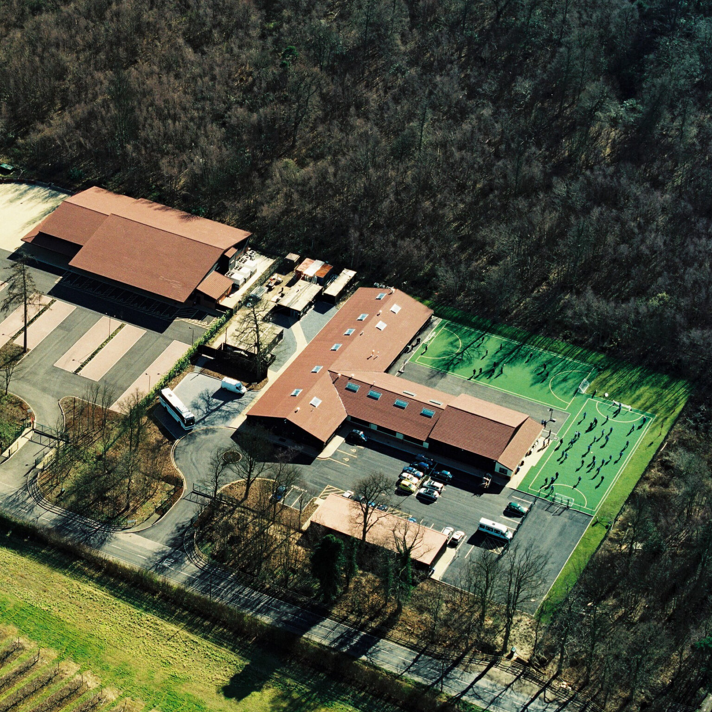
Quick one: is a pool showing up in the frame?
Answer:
No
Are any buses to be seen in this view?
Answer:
Yes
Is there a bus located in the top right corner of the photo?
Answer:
No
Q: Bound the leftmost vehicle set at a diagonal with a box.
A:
[158,386,199,433]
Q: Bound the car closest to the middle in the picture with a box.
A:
[344,429,369,445]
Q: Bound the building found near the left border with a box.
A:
[21,187,252,314]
